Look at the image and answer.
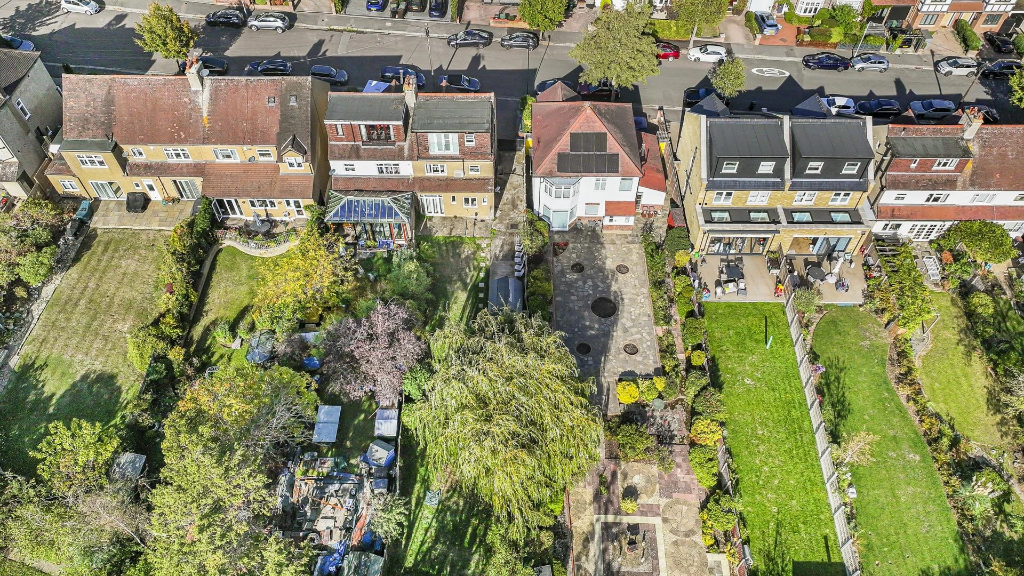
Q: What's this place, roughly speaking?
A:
residential area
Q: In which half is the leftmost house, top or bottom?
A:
top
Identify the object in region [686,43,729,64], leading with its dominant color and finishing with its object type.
white car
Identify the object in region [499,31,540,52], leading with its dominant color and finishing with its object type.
gray car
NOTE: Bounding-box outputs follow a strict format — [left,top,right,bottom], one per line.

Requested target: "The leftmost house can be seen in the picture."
[0,40,57,177]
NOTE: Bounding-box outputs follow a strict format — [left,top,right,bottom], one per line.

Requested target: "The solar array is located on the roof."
[558,132,619,172]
